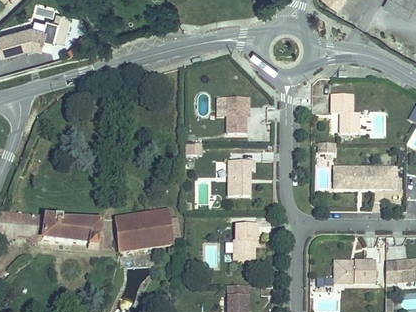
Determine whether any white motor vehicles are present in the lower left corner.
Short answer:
No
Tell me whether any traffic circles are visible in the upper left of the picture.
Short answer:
No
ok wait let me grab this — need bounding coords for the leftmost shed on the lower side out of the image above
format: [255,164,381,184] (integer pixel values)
[0,212,40,240]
